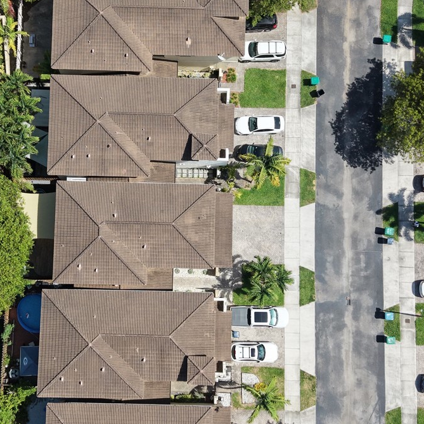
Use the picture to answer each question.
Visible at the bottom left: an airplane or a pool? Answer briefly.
pool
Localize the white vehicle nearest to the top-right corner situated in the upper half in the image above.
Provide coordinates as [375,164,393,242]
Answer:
[239,38,287,62]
